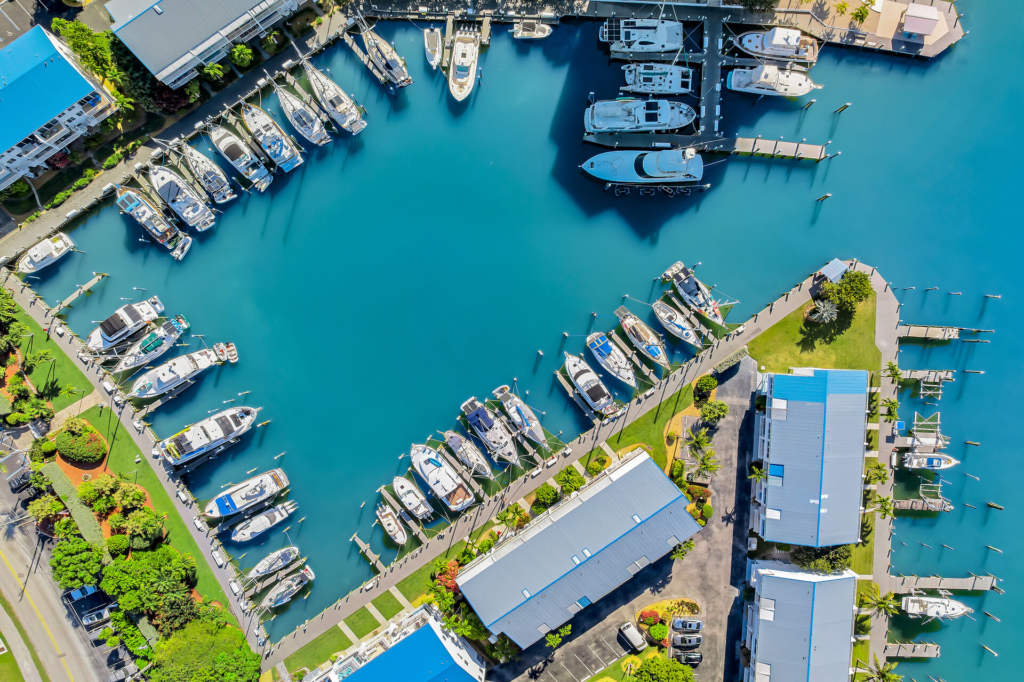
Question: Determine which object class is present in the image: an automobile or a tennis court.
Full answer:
The image shows an automobile.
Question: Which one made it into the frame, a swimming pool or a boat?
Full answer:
The one in the frame is a boat.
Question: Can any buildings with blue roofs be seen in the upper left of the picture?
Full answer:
Yes, the scene does show a building with a blue roof in the upper left of the picture.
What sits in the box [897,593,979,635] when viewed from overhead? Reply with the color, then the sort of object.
white boat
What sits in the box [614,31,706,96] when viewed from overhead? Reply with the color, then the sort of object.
blue boat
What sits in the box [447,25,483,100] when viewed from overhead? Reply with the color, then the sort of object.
white boat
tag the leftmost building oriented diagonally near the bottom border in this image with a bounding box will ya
[459,450,702,650]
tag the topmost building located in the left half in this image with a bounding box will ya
[103,0,326,95]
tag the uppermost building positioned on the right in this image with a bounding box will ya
[896,2,938,40]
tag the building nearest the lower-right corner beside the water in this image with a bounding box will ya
[739,553,855,682]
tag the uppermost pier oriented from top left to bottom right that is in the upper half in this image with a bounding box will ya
[342,31,387,82]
